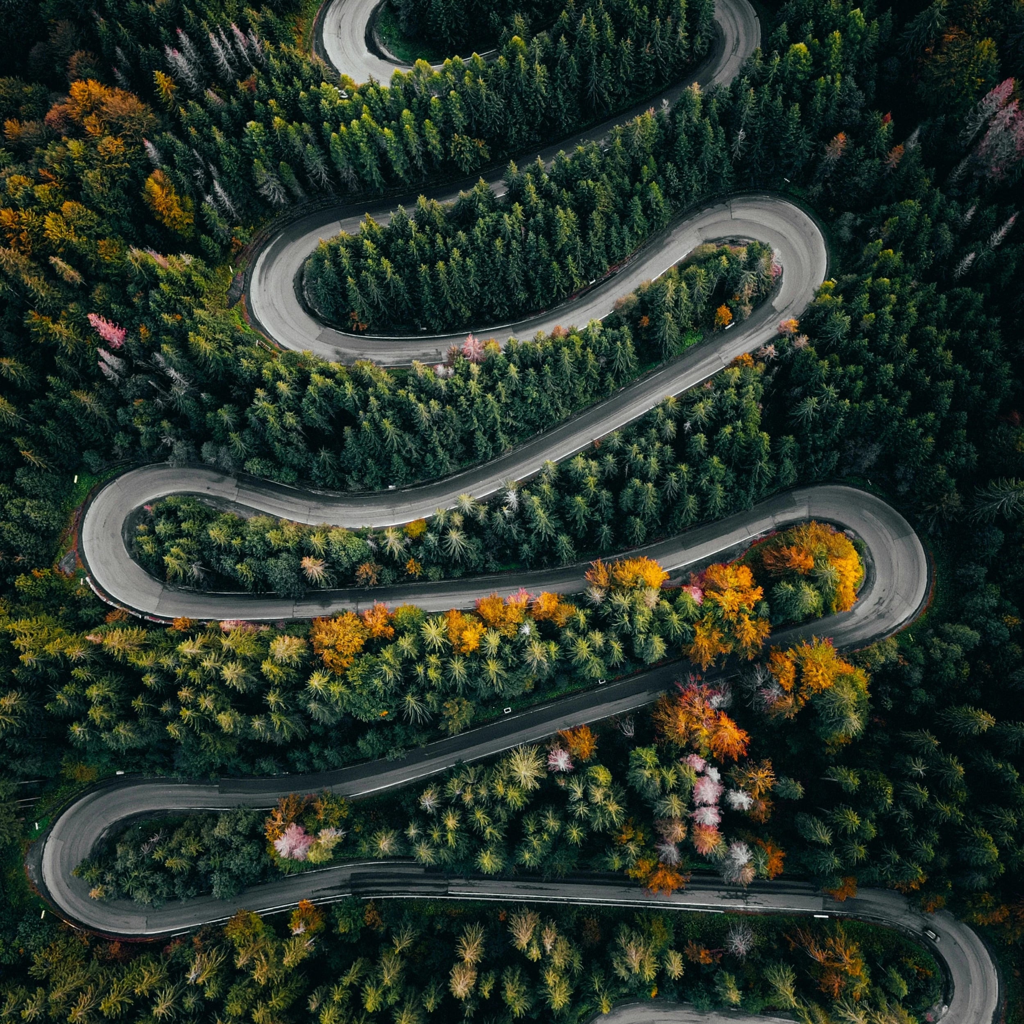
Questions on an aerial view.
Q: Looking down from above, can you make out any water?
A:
No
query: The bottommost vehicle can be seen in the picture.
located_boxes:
[924,928,942,944]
